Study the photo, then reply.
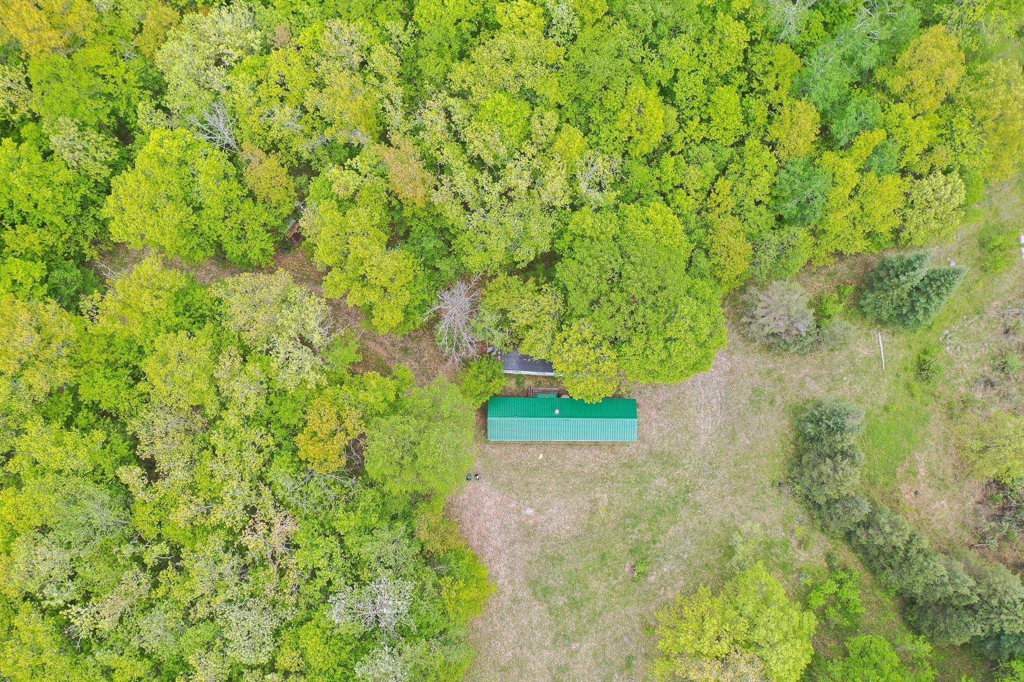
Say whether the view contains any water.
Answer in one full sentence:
No, no water is visible.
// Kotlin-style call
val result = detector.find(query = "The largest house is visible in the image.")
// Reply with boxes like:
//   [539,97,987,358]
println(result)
[487,394,638,442]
